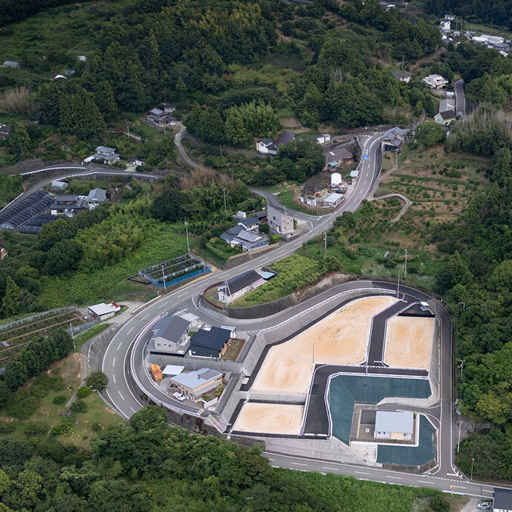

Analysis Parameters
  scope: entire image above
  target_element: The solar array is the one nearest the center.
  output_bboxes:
[222,270,255,294]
